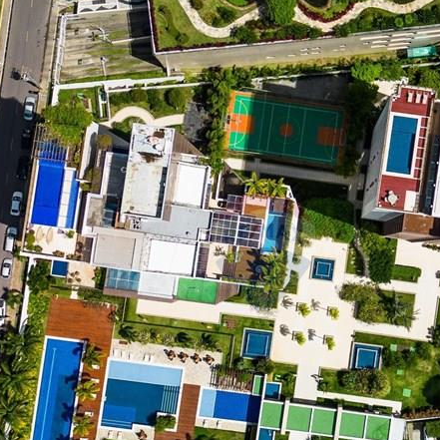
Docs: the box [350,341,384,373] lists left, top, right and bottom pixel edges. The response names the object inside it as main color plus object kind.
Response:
blue swimming pool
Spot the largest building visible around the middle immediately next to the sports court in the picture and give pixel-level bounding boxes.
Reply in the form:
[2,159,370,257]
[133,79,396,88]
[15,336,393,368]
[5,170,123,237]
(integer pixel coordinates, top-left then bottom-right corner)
[80,123,300,305]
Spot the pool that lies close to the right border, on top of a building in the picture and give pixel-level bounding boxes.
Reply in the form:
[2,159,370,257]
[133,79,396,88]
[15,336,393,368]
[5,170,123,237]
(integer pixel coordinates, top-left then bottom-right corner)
[383,111,422,179]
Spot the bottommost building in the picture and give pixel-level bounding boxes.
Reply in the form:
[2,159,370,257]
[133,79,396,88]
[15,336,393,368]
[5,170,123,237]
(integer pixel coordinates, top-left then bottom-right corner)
[258,392,406,440]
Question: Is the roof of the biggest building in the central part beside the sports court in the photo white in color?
Yes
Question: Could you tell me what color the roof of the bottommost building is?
green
